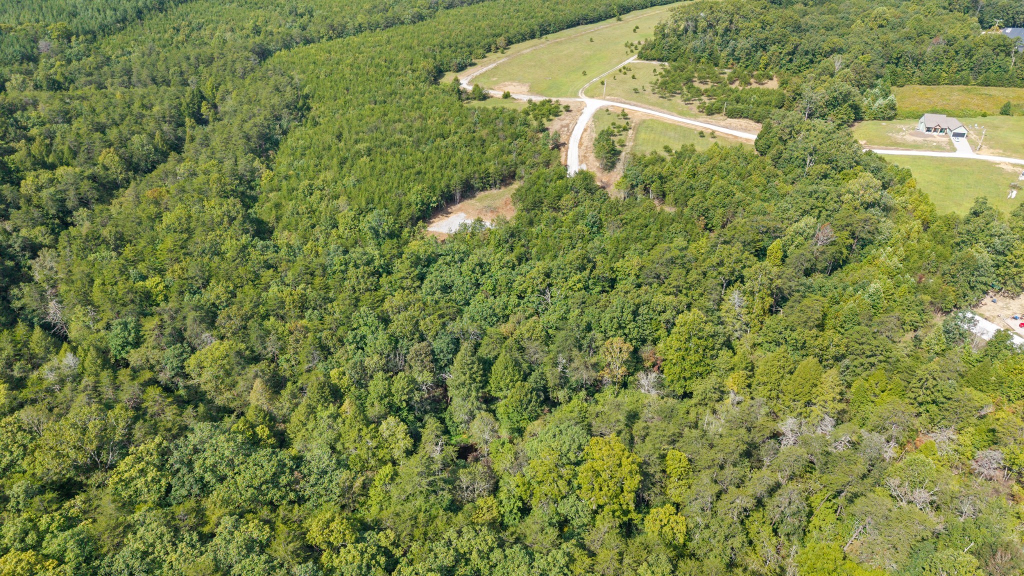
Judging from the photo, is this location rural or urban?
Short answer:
rural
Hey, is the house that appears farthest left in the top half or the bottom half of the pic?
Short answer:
top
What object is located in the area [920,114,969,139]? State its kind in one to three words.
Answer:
house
